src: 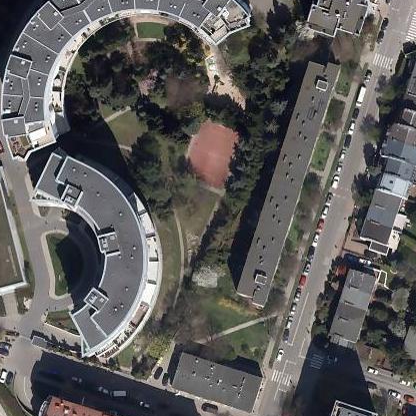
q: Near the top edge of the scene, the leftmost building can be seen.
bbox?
[1,0,259,162]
